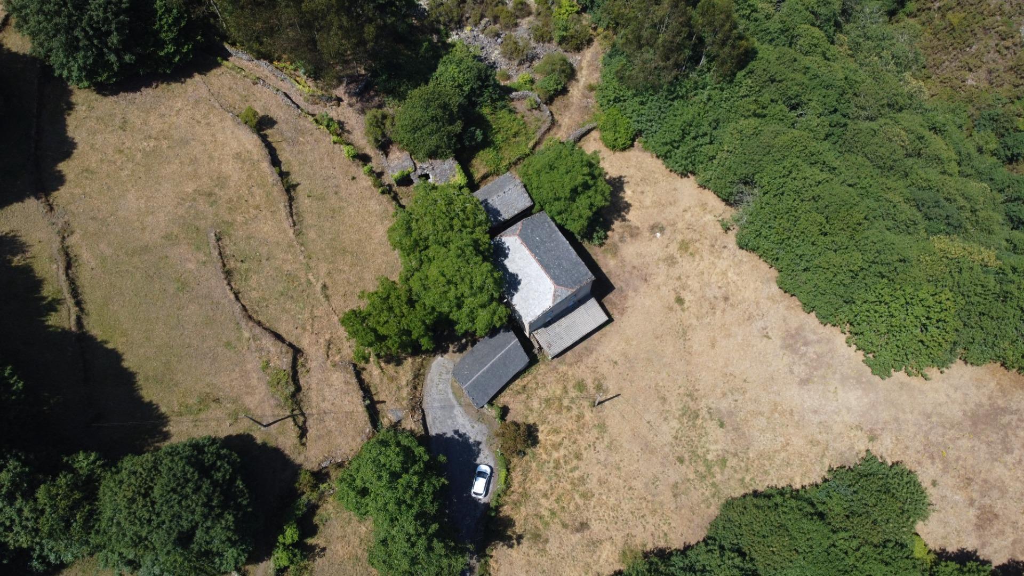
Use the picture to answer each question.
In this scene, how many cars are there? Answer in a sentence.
In total, 1 car can be seen.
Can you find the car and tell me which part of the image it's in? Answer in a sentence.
The car is located in the bottom region of the scene.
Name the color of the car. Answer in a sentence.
The color of the car is white.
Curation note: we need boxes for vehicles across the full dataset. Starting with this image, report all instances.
[471,464,491,499]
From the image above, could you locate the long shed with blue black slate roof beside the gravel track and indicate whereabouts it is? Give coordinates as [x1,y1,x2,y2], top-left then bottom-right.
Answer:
[452,326,529,410]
